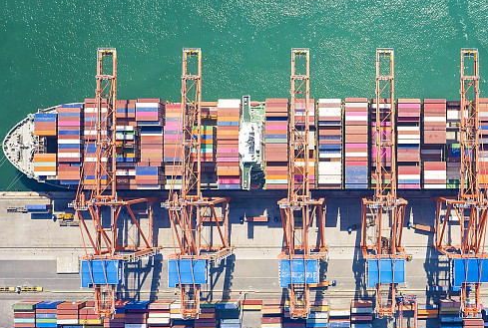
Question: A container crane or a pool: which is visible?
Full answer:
Visible in the photo is a container crane.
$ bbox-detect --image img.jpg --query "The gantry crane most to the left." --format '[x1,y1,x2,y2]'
[66,49,170,319]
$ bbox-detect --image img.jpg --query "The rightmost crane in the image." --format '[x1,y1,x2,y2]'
[426,48,488,319]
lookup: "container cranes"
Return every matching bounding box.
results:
[66,49,170,319]
[426,48,488,319]
[397,292,419,328]
[278,49,333,319]
[354,49,411,319]
[160,49,241,319]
